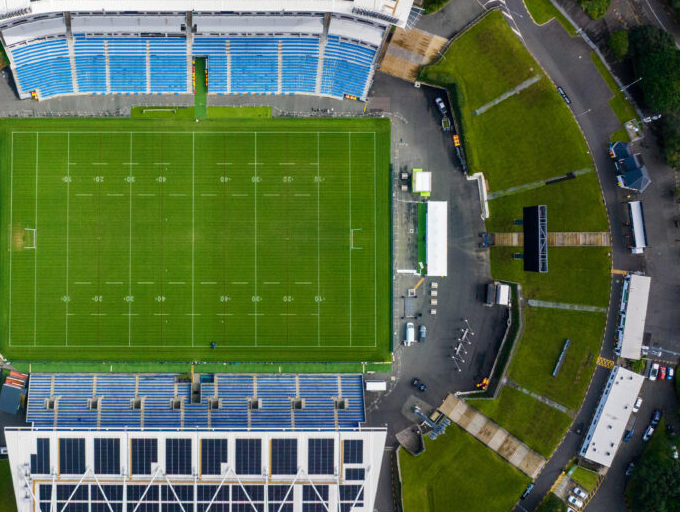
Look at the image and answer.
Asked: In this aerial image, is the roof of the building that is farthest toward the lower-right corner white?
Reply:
Yes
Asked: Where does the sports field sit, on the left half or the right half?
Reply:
left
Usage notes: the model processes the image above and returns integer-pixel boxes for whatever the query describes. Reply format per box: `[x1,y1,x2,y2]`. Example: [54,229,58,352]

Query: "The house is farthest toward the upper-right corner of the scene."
[609,142,651,192]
